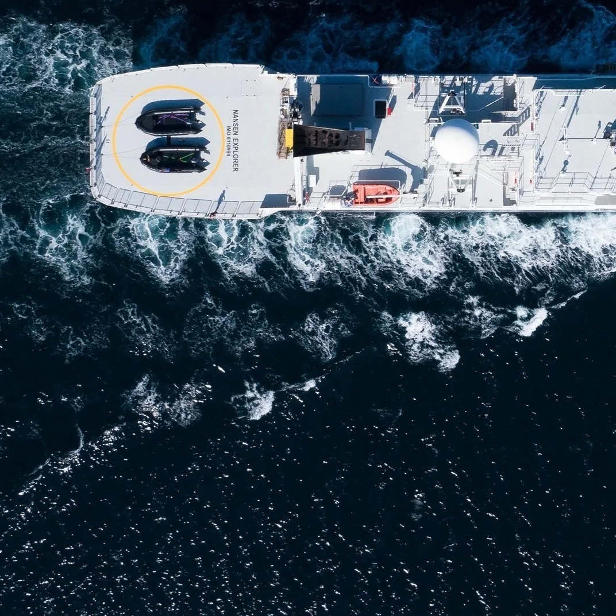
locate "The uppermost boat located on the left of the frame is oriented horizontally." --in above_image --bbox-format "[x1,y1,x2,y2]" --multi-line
[134,109,206,136]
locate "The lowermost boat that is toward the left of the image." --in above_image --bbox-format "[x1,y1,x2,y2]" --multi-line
[140,146,210,174]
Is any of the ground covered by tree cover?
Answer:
No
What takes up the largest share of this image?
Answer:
water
